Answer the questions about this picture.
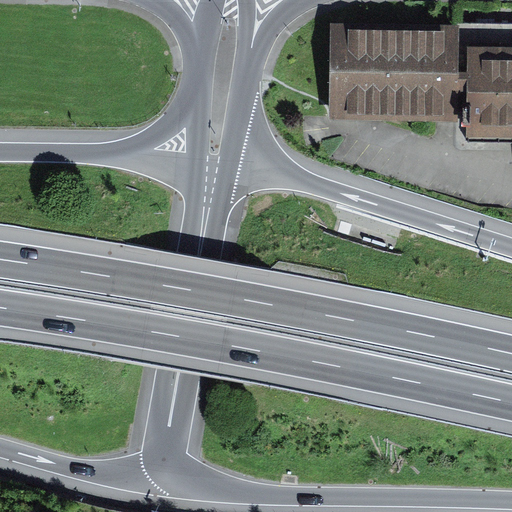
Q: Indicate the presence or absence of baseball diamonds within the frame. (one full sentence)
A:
No, there is no baseball diamond in the image.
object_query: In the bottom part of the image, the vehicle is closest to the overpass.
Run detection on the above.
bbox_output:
[232,352,258,364]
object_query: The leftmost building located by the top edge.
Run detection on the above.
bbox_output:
[330,22,467,121]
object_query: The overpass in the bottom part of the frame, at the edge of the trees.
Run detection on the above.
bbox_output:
[143,250,238,378]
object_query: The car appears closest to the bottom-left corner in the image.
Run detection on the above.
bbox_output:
[71,464,95,476]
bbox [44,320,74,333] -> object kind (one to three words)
vehicle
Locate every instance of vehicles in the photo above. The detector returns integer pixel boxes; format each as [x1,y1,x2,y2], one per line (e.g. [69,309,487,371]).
[20,248,38,260]
[299,495,323,506]
[71,464,95,476]
[232,352,258,364]
[44,320,74,333]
